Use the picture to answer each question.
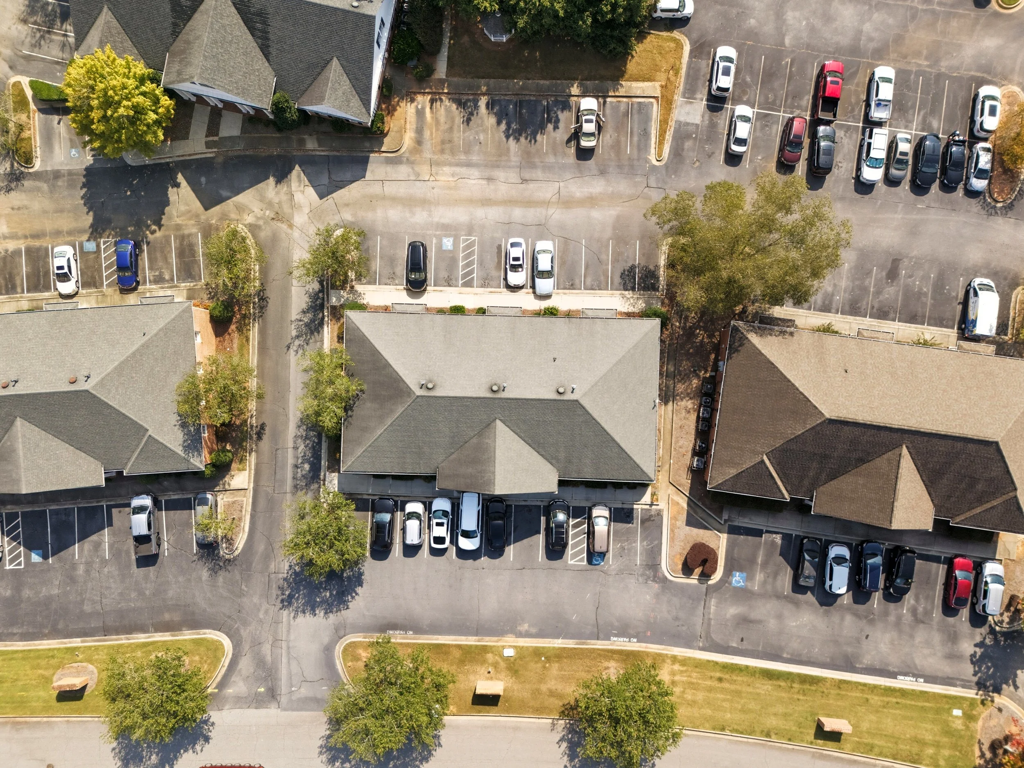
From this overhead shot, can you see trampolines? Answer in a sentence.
No, I can see no trampoline in this picture.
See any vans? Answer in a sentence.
Yes, looking at the shot, I can spot a van.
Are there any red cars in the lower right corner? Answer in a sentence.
Yes, I can see a red car in the lower right corner.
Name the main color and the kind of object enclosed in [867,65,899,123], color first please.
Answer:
white truck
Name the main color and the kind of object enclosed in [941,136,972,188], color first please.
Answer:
black car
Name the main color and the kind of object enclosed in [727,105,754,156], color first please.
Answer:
white car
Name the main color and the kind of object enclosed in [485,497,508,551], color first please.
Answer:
black car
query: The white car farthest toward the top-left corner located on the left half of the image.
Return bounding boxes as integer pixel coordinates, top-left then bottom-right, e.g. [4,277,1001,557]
[51,245,79,296]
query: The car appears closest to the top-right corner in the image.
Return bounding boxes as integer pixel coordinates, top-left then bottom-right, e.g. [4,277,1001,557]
[972,85,1005,138]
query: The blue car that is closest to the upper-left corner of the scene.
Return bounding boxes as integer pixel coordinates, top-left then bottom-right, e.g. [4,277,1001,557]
[112,238,139,290]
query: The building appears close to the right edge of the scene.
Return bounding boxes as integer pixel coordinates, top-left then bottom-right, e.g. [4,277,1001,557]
[700,315,1024,535]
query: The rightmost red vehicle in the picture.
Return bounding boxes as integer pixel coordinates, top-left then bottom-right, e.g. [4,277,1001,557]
[945,554,975,610]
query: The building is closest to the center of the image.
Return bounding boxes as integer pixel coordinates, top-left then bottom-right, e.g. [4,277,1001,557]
[340,303,662,494]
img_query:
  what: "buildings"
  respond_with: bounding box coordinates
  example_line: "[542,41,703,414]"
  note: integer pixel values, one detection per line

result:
[700,315,1024,535]
[340,303,662,494]
[63,0,406,134]
[0,295,221,494]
